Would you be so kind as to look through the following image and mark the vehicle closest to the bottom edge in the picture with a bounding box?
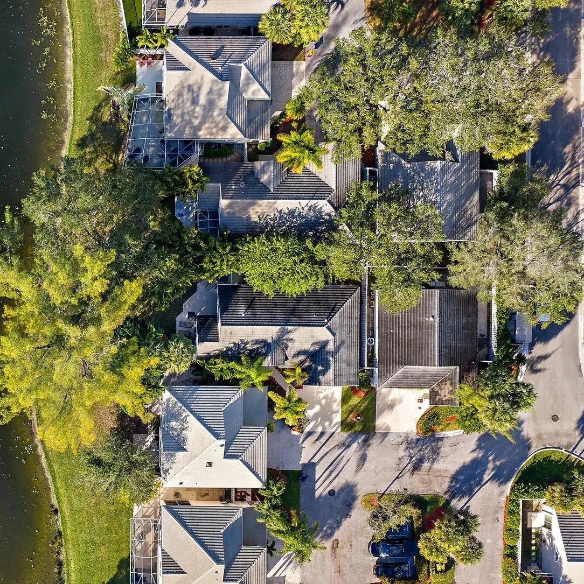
[374,562,412,581]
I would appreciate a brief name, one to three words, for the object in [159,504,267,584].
house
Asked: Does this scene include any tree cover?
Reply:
Yes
